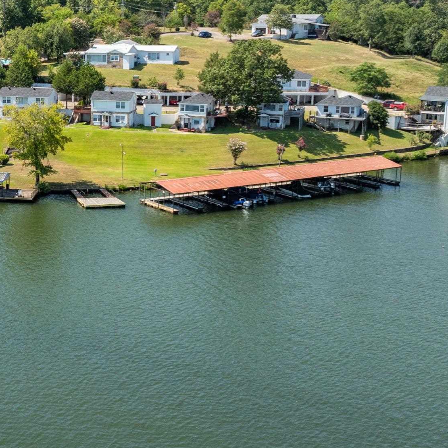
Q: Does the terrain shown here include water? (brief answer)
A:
Yes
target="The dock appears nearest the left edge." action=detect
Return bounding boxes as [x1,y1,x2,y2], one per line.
[67,187,125,209]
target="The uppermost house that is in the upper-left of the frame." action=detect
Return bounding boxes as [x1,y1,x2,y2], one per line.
[60,43,180,70]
